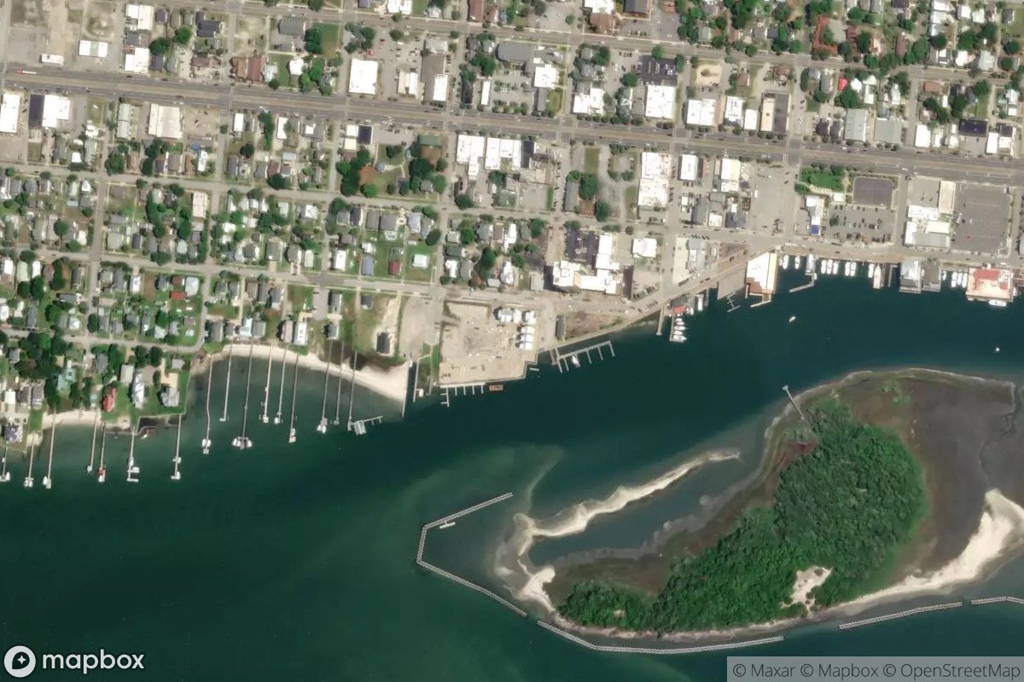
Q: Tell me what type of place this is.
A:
residential area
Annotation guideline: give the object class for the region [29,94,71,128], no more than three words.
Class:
building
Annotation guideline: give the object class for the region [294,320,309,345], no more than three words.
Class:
house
